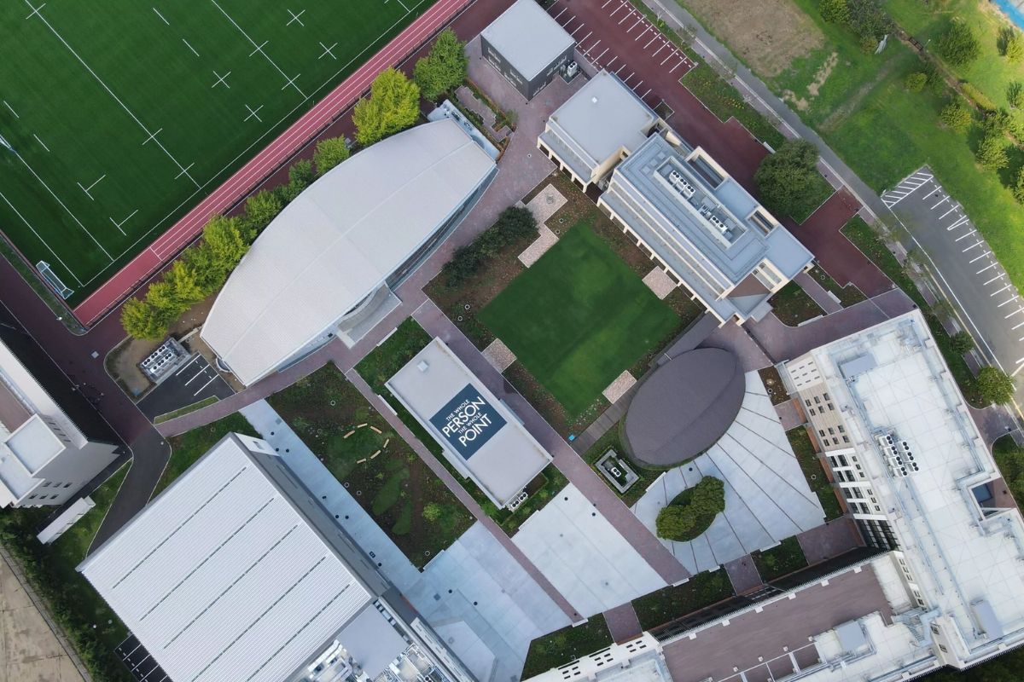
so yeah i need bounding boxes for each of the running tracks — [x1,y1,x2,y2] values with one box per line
[0,0,466,326]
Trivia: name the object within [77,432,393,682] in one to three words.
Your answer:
building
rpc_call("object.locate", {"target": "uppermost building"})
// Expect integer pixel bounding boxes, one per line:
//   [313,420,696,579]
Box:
[480,0,576,101]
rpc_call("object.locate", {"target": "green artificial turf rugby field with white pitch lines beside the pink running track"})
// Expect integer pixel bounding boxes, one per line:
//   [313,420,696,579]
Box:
[0,0,436,309]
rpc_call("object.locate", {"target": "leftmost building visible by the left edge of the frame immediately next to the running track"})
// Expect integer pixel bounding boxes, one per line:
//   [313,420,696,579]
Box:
[0,302,127,505]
